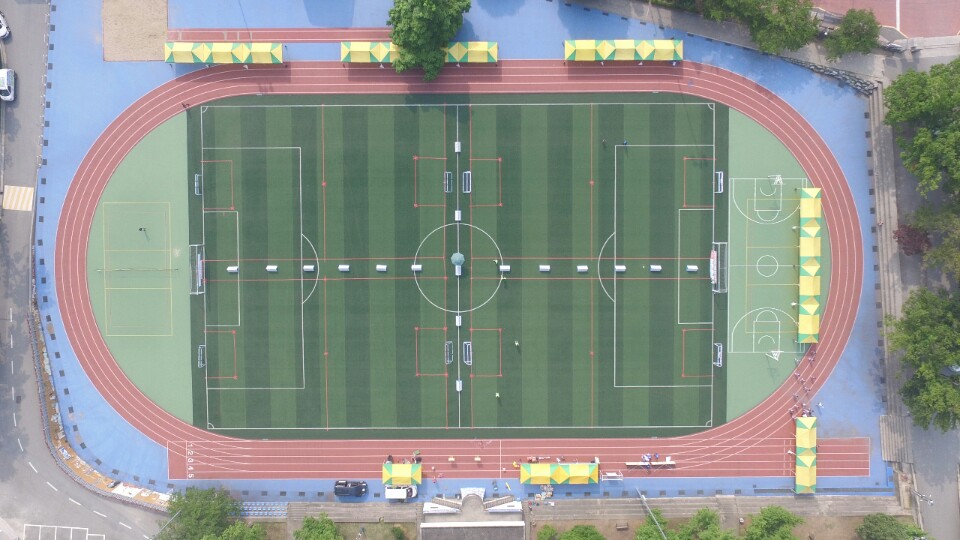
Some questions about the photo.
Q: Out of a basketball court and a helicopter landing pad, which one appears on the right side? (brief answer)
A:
basketball court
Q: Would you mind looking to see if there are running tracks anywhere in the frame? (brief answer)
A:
Yes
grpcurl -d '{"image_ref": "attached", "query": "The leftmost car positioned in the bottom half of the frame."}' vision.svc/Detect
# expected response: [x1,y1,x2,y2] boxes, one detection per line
[335,479,367,496]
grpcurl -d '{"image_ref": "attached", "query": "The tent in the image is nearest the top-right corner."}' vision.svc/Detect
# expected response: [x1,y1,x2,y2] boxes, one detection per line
[792,188,821,228]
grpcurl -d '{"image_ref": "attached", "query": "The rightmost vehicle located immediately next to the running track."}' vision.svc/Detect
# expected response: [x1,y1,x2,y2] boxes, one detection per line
[385,484,418,498]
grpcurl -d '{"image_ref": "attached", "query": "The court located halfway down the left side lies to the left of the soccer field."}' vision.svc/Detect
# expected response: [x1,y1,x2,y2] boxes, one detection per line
[87,111,193,428]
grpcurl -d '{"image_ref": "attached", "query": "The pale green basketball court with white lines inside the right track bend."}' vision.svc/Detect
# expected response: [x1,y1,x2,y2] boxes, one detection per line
[727,107,832,424]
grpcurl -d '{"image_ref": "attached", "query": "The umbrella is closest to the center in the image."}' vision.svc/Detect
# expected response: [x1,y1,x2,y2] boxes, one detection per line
[451,255,464,269]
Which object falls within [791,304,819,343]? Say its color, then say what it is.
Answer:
yellow tent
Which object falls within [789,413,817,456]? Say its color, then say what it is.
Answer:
yellow tent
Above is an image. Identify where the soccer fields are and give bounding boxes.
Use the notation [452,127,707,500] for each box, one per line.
[188,92,728,441]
